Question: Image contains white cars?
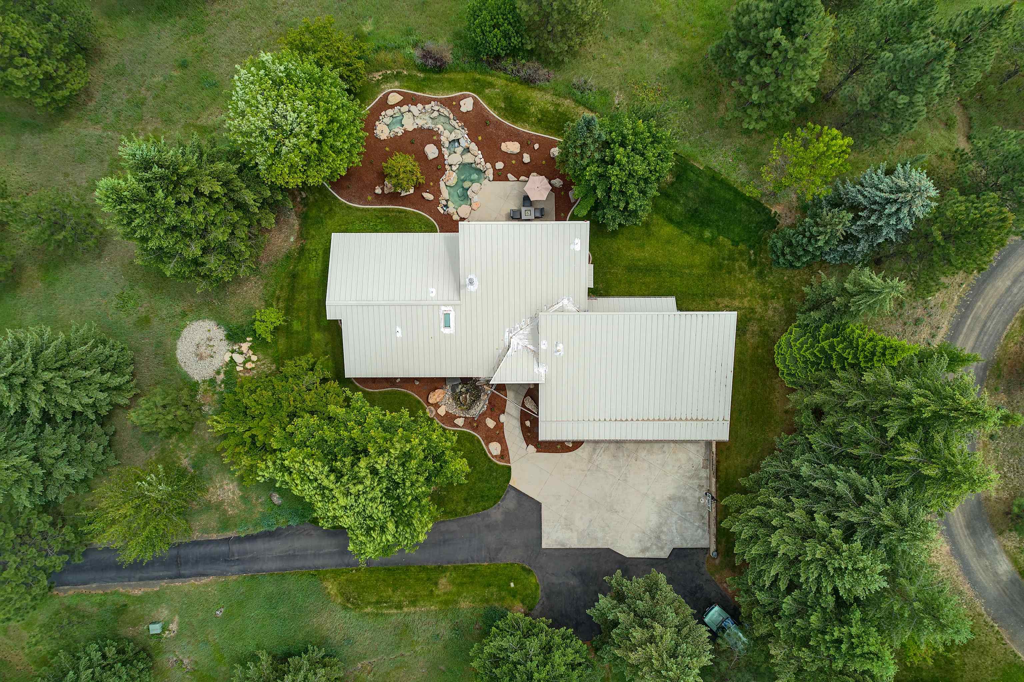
No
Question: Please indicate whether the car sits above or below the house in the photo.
below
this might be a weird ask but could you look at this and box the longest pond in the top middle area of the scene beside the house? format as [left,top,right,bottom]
[374,101,494,221]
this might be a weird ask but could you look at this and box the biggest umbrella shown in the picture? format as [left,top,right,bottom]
[524,176,552,201]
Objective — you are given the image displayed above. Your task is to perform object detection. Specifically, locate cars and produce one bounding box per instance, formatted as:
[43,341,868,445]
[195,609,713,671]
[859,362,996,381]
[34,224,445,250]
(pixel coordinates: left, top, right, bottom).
[703,605,752,662]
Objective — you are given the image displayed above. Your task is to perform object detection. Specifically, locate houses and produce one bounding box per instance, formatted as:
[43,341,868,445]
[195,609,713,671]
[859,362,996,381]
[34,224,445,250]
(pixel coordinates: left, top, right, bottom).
[325,222,737,444]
